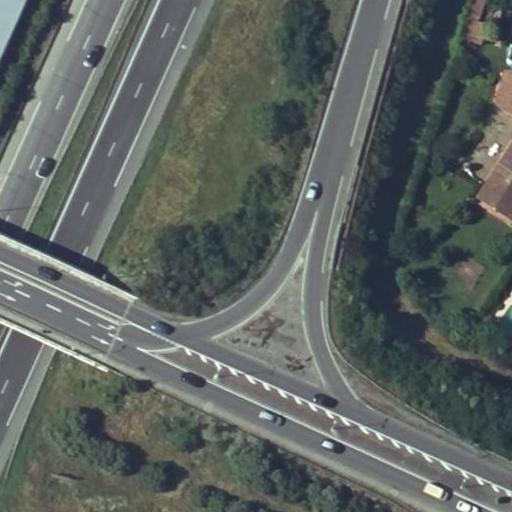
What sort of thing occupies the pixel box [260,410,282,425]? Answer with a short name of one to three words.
car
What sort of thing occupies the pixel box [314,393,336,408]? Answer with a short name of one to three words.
car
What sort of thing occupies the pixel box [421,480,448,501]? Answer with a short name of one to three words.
vehicle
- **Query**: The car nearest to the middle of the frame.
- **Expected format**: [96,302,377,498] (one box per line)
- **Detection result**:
[306,180,320,201]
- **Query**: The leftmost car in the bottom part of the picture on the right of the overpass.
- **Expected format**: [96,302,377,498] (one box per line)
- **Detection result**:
[152,320,173,336]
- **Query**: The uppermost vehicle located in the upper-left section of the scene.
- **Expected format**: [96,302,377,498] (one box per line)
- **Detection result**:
[86,46,100,66]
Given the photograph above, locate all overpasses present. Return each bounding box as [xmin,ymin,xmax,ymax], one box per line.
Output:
[0,236,138,377]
